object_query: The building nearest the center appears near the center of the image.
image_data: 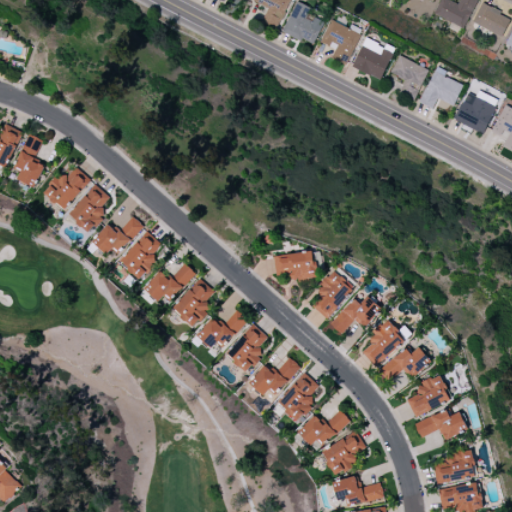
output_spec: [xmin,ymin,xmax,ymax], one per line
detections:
[275,252,318,280]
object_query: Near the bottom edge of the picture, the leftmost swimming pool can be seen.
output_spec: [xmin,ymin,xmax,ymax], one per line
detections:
[320,485,332,510]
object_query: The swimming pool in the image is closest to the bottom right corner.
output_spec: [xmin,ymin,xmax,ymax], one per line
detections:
[487,480,500,504]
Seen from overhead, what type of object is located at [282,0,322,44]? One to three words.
house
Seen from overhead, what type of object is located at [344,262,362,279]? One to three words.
swimming pool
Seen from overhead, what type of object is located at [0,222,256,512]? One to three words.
golf course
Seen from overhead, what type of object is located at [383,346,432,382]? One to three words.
house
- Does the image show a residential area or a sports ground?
residential area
